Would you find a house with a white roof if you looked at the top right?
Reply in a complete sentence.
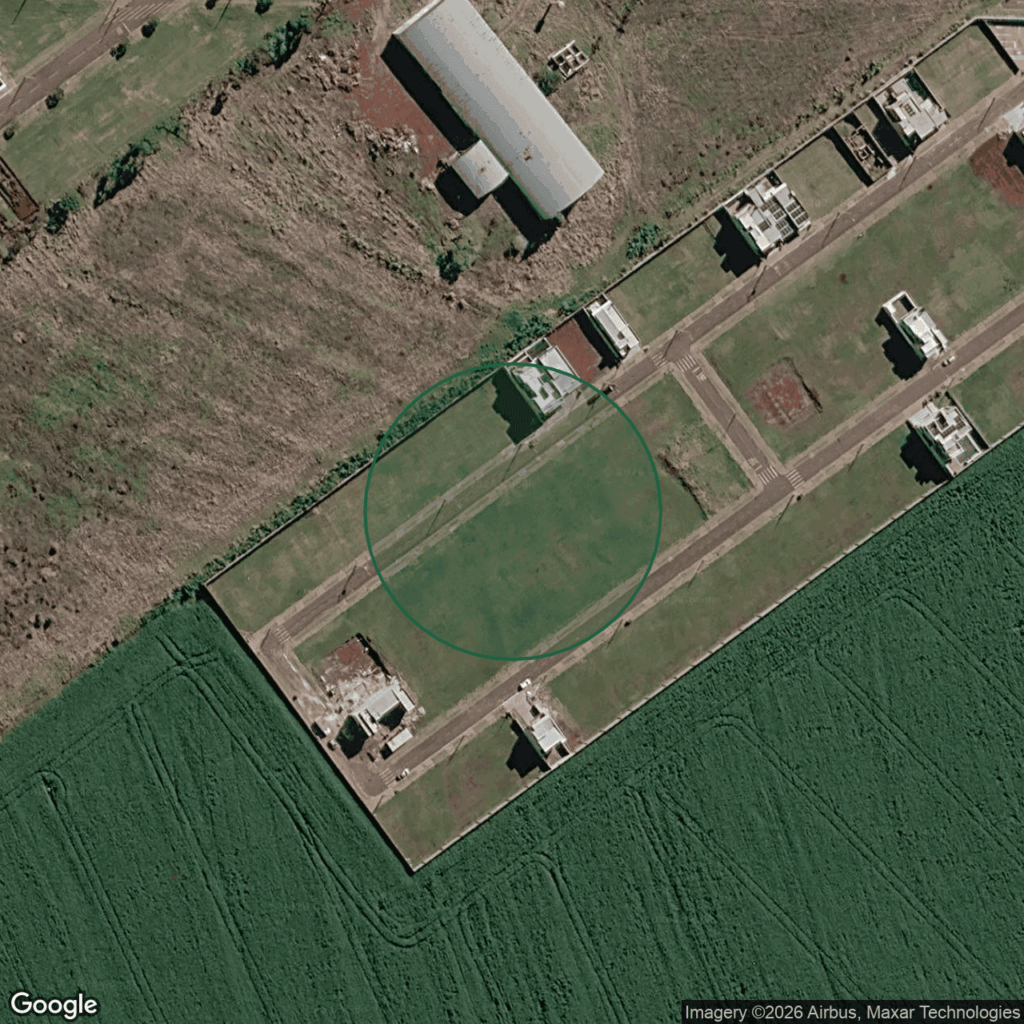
Yes, a house with a white roof appears at the top right.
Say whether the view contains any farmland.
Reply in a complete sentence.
Yes, farmland can be seen from above here.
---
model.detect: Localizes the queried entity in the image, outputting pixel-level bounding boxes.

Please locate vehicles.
[519,678,532,690]
[397,769,409,779]
[604,385,616,395]
[945,355,957,366]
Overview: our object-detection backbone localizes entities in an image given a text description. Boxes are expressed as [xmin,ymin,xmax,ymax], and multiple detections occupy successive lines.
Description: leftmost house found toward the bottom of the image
[348,687,414,736]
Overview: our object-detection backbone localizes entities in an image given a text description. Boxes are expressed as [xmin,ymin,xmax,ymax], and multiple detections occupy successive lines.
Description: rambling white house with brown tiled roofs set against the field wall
[909,402,982,476]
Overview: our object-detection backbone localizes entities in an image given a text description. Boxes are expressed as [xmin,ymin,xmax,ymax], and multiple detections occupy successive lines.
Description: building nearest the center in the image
[512,341,581,417]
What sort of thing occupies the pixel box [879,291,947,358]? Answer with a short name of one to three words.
house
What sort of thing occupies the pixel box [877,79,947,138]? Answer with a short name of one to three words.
house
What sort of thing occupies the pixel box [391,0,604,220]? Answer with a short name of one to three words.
warehouse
